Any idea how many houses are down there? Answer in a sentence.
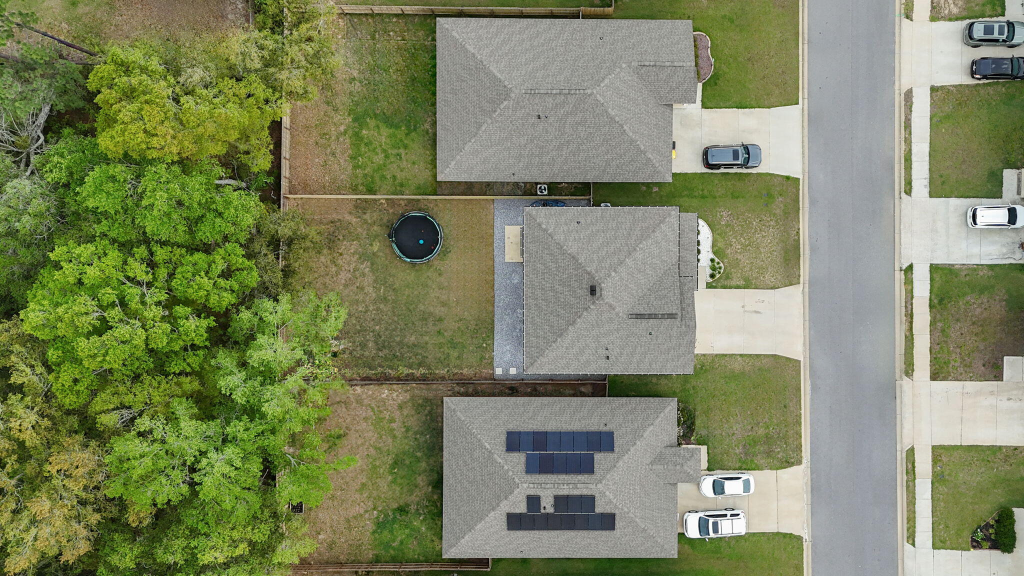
There are 3 houses in the image.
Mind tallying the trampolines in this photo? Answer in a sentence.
There is 1 trampoline in the image.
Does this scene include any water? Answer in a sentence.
No, there is no water in the image.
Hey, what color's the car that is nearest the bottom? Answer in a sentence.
The color of the car that is nearest the bottom is white.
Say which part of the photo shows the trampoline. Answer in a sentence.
You can find the trampoline in the center area of the picture.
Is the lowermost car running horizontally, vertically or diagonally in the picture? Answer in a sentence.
In this picture, the lowermost car lies horizontally.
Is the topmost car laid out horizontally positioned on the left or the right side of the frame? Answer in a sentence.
You can find the topmost car laid out horizontally on the right side of the picture.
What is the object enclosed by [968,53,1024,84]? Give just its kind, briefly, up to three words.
car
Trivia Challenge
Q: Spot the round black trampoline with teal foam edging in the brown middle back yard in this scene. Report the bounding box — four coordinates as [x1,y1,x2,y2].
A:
[385,210,443,263]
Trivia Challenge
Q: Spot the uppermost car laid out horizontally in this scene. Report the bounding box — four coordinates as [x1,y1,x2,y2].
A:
[961,18,1024,50]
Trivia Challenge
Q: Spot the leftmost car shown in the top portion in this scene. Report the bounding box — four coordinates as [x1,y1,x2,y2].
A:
[701,142,761,172]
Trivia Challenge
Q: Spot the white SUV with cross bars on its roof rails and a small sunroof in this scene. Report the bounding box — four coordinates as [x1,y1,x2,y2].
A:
[683,507,746,540]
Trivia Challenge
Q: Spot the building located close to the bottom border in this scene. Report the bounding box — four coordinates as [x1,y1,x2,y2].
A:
[442,396,702,559]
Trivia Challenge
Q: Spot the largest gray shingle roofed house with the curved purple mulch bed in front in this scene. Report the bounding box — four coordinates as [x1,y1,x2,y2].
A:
[436,17,697,182]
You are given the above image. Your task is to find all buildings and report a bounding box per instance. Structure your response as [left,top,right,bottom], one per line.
[436,17,697,182]
[522,205,700,375]
[442,396,702,559]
